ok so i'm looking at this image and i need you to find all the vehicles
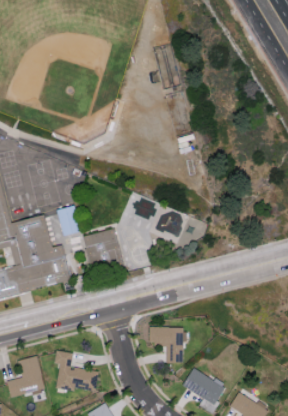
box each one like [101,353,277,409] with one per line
[227,408,234,416]
[88,313,98,318]
[2,368,8,378]
[159,293,170,300]
[221,280,230,285]
[14,208,25,213]
[115,362,122,374]
[8,364,13,374]
[74,354,85,358]
[194,286,204,291]
[194,396,202,402]
[52,322,62,326]
[130,394,136,402]
[184,389,192,398]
